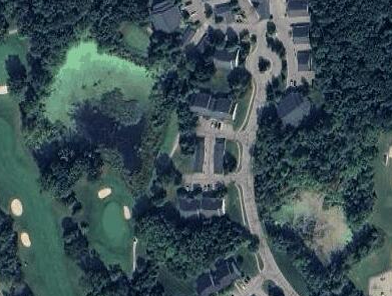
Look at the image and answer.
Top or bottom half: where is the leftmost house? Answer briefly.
top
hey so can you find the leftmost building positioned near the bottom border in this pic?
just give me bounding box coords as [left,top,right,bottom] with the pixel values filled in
[195,255,243,295]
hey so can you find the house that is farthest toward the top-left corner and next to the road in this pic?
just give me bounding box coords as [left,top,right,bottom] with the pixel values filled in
[151,0,182,32]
